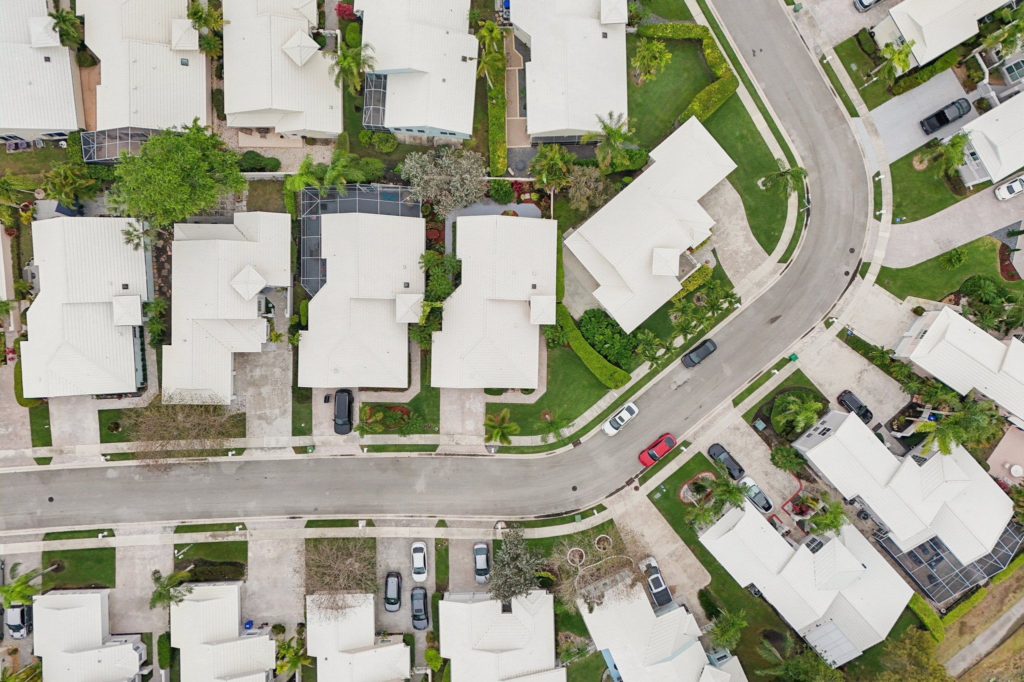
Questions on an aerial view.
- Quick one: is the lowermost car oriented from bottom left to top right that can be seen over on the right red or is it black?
red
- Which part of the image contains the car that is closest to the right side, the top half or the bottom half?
top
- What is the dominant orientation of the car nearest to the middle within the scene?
on a diagonal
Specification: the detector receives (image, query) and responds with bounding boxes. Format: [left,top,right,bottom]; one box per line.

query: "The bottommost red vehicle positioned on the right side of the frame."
[638,433,677,467]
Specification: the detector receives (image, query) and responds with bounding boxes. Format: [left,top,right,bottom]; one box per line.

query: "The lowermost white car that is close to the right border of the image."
[991,174,1024,201]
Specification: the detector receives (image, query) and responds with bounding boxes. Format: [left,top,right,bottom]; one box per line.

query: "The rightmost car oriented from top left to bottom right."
[834,389,873,426]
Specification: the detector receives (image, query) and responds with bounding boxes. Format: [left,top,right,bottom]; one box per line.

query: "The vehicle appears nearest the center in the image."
[600,401,641,436]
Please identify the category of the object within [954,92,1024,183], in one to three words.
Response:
house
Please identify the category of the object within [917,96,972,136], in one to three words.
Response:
truck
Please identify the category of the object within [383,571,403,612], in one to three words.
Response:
car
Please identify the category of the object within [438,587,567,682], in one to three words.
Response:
house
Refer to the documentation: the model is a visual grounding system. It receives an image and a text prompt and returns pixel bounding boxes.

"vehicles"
[991,174,1024,201]
[641,556,673,609]
[600,401,641,436]
[738,475,775,515]
[383,571,403,612]
[409,541,429,582]
[679,337,720,370]
[472,542,492,584]
[332,390,353,434]
[708,442,746,480]
[834,389,873,426]
[638,433,677,467]
[917,96,972,136]
[6,590,32,639]
[409,586,429,629]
